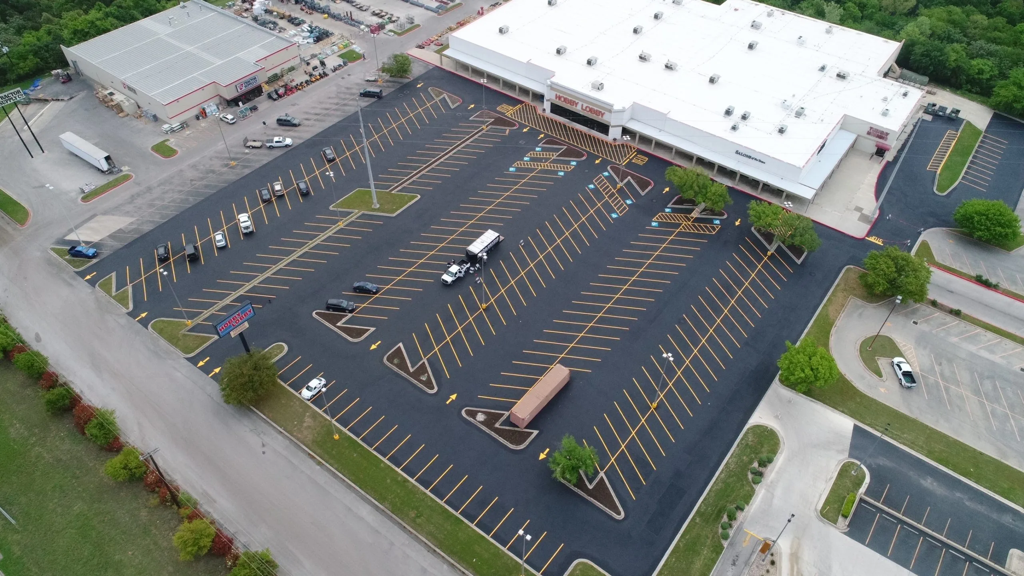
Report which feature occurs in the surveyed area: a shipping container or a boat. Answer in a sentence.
I can see a shipping container in this picture.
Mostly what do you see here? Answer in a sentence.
The scene is dominated by paved ground.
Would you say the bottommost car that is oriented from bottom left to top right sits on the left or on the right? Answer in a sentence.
The bottommost car that is oriented from bottom left to top right sits on the left side.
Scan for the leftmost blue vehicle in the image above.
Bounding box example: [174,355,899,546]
[64,244,99,259]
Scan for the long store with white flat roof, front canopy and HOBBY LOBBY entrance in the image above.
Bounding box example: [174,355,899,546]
[442,0,928,202]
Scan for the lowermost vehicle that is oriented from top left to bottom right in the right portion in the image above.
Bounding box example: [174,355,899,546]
[891,355,920,386]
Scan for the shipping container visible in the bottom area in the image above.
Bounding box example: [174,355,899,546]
[510,363,569,429]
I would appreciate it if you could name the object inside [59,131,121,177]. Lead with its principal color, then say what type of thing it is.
white trailer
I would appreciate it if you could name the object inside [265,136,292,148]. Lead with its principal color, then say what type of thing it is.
white vehicle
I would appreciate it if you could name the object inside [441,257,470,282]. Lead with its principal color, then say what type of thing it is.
white truck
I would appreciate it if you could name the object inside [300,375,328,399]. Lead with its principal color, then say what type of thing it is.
white car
